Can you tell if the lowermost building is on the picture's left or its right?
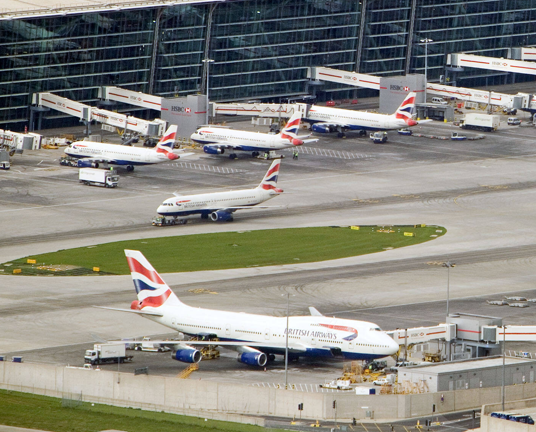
right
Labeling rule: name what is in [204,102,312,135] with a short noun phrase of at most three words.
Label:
jet bridge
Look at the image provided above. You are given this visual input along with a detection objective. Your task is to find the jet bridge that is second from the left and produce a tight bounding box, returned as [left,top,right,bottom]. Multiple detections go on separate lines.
[100,105,174,147]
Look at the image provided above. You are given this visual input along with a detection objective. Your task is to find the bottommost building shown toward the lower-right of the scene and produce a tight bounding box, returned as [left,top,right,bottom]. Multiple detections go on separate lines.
[403,354,536,392]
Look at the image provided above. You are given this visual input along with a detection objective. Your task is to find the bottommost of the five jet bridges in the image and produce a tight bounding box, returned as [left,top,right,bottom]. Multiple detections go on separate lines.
[387,323,463,365]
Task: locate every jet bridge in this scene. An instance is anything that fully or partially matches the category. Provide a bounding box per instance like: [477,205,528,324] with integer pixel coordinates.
[100,105,174,147]
[419,83,536,119]
[0,130,42,161]
[387,323,463,365]
[204,102,312,135]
